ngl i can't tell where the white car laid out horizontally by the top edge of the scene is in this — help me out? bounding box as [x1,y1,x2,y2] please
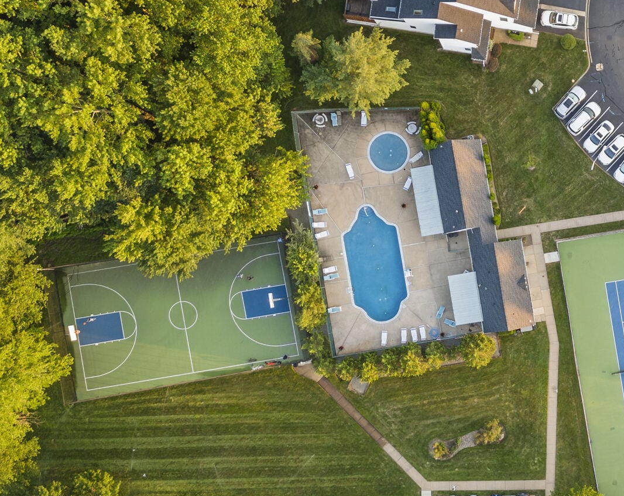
[541,11,578,29]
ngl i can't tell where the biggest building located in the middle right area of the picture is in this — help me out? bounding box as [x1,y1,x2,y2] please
[428,139,536,332]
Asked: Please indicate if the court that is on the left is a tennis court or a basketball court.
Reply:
basketball court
